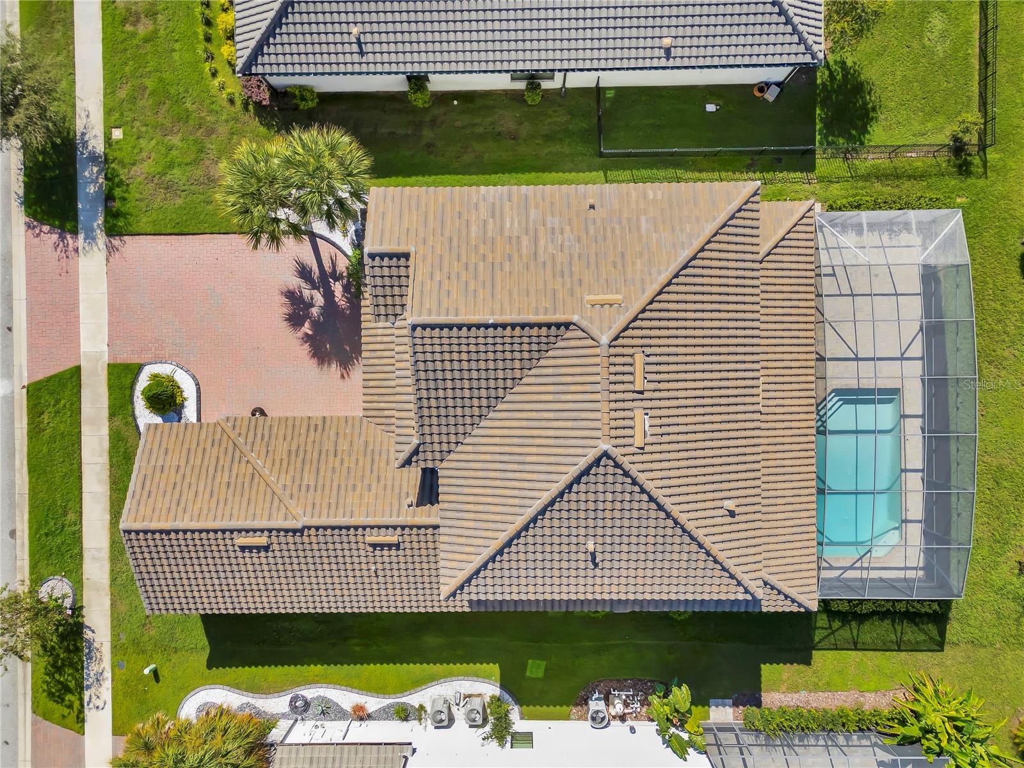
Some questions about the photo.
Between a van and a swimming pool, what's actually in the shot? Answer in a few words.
swimming pool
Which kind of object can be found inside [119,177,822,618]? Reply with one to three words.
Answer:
house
